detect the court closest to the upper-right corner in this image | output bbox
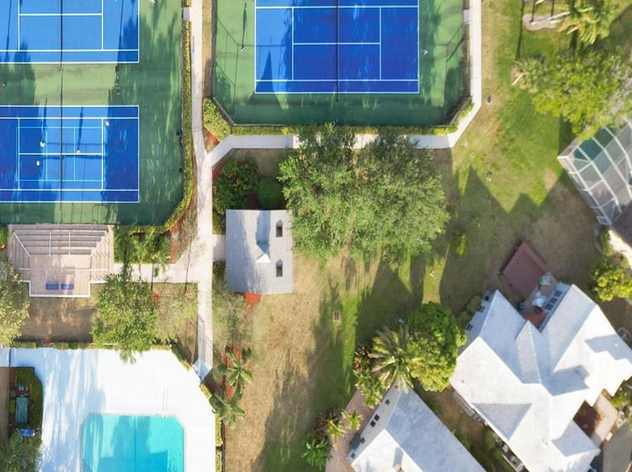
[213,0,466,124]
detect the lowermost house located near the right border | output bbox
[453,285,632,472]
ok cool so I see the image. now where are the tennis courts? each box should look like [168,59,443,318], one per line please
[0,84,183,224]
[0,0,183,84]
[213,0,466,124]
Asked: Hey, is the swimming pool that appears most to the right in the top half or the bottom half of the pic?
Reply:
top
